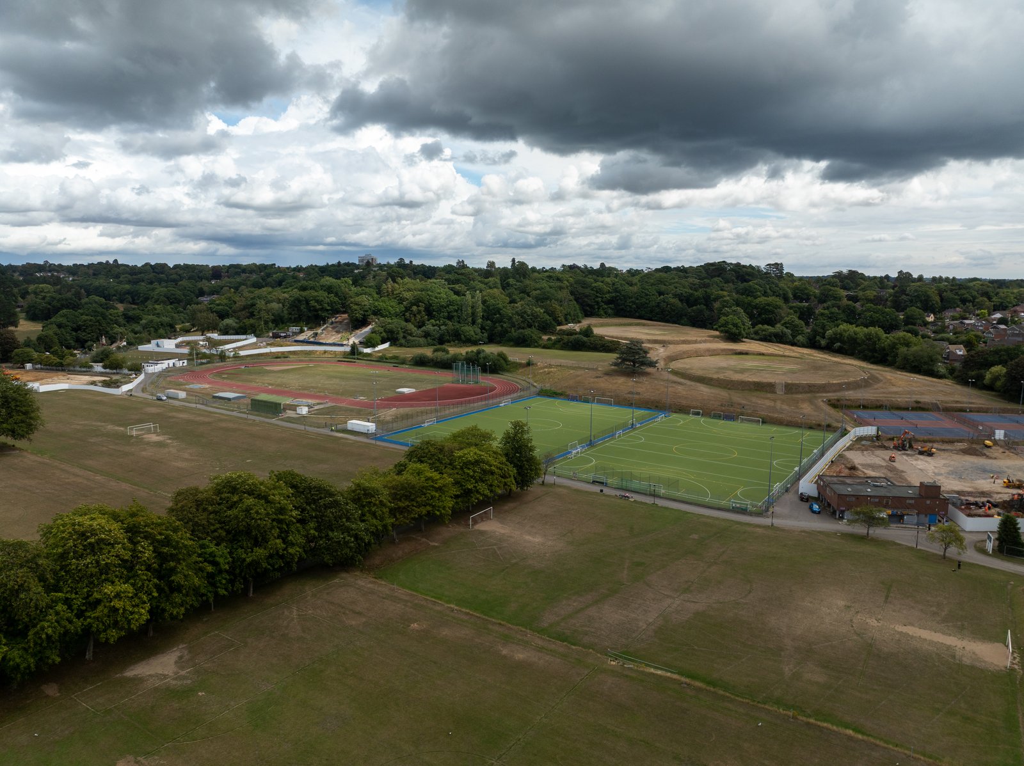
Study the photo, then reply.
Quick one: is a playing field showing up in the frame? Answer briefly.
Yes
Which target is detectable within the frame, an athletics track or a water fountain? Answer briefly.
athletics track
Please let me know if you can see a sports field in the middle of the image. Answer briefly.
Yes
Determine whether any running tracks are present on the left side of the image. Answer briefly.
Yes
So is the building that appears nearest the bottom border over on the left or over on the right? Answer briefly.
right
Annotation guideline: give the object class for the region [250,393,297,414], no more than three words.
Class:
building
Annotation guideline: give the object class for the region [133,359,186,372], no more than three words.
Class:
building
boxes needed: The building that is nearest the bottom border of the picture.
[817,475,950,525]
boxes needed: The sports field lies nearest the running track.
[387,397,664,460]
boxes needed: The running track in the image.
[170,360,518,408]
